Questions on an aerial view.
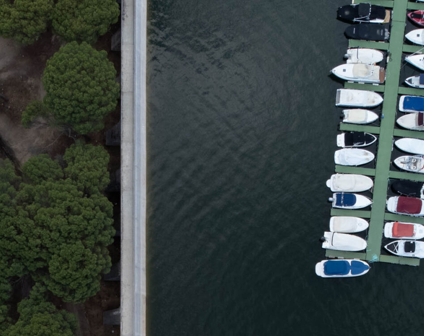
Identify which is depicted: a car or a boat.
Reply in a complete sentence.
It is a boat that can be seen here.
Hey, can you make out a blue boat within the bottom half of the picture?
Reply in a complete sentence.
Yes, within the bottom half of the picture there is a blue boat.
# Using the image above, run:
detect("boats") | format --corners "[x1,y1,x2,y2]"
[383,241,424,256]
[335,149,376,167]
[401,48,424,73]
[396,92,424,114]
[335,90,384,110]
[402,30,424,46]
[329,194,374,209]
[335,133,377,149]
[329,217,371,232]
[399,77,424,88]
[345,25,392,44]
[395,113,424,132]
[338,2,392,25]
[387,180,424,197]
[386,197,424,217]
[331,64,386,84]
[320,233,368,253]
[390,156,424,174]
[340,109,380,124]
[395,138,424,153]
[404,12,424,26]
[327,175,374,192]
[383,222,424,240]
[315,259,371,277]
[345,48,389,64]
